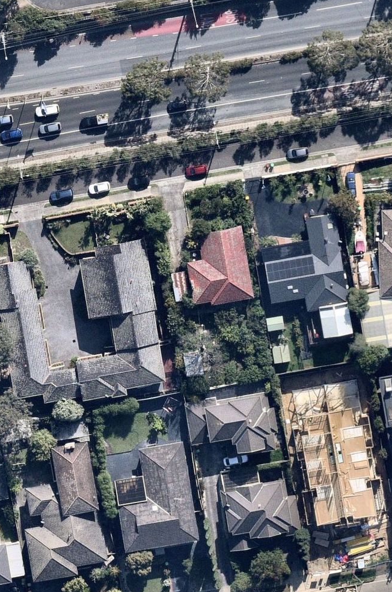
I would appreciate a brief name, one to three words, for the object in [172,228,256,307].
house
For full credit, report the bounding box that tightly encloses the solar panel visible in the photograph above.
[267,257,315,280]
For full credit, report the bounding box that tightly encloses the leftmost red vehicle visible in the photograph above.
[186,165,206,178]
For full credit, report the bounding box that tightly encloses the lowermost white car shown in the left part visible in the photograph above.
[88,183,110,196]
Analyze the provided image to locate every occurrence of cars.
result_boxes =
[0,116,12,127]
[186,165,206,178]
[88,183,110,196]
[166,101,188,114]
[36,106,59,118]
[358,261,368,285]
[286,147,309,160]
[127,177,150,188]
[51,190,72,203]
[39,123,61,135]
[224,457,247,468]
[1,129,23,142]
